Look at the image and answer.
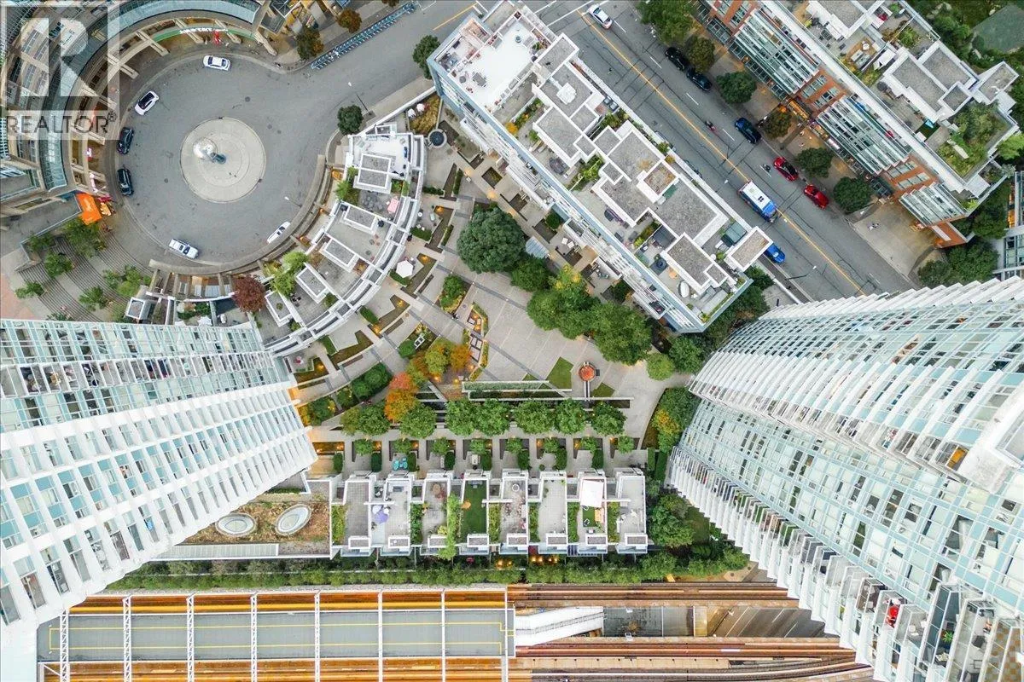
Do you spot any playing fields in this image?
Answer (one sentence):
No, there appears to be no playing field in this shot.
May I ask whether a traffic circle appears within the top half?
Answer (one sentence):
Yes, a traffic circle can be seen within the top half.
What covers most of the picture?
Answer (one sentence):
The bulk of the photo consists of buildings.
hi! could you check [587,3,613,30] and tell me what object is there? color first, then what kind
white car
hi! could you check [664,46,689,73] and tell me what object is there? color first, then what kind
black car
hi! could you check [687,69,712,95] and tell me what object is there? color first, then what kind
black car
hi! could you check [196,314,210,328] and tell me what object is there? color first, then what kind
white umbrella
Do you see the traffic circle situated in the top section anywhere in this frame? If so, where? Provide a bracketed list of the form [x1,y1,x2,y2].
[120,57,325,262]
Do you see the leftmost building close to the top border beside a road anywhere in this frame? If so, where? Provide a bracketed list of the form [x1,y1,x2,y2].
[0,0,313,258]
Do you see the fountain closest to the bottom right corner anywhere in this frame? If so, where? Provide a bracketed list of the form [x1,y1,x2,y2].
[577,361,600,400]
